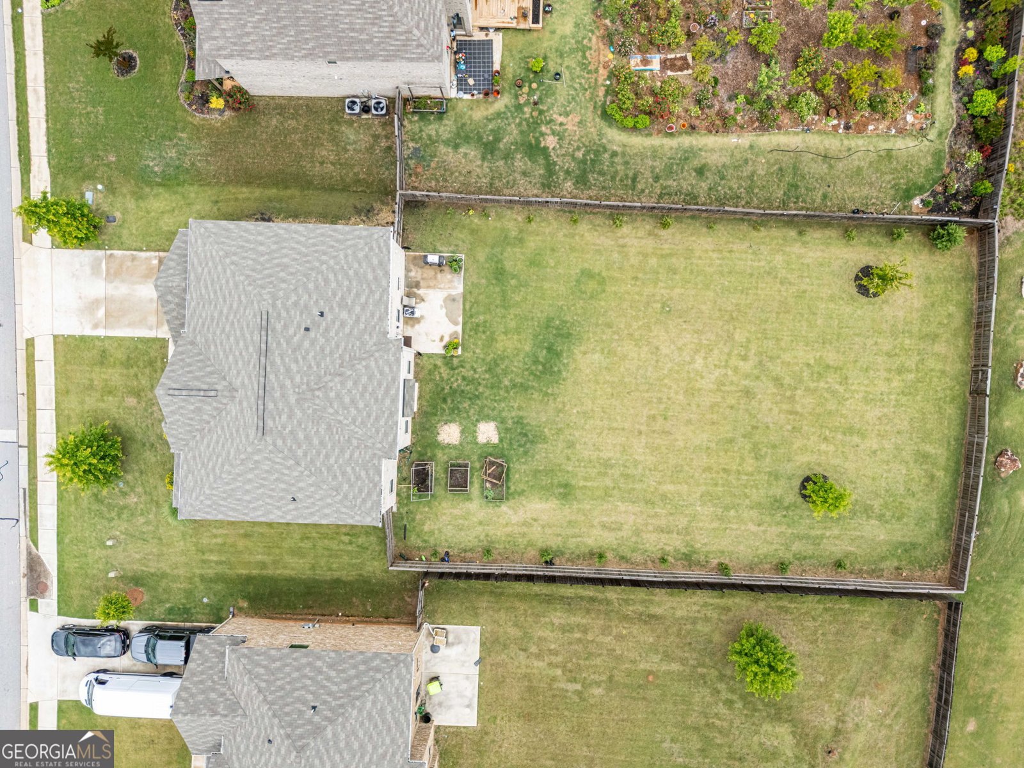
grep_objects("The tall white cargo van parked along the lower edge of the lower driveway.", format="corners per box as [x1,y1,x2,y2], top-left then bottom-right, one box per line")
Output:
[79,668,185,719]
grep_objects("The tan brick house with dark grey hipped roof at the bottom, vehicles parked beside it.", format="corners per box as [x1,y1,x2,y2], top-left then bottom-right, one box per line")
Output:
[171,605,439,768]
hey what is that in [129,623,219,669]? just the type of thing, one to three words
truck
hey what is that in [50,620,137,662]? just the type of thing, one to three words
car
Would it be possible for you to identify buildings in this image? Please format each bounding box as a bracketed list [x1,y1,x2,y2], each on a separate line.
[171,605,439,768]
[155,219,425,527]
[191,0,472,98]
